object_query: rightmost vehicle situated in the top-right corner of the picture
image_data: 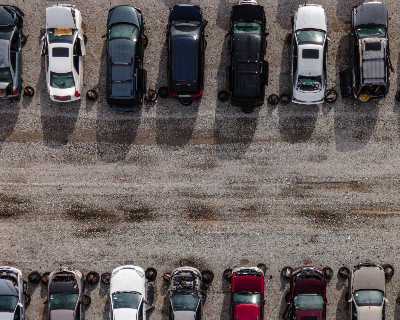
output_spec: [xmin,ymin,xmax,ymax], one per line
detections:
[349,2,394,102]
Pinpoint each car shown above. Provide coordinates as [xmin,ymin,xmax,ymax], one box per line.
[166,266,204,320]
[290,5,332,105]
[226,266,269,320]
[102,5,145,111]
[41,5,89,102]
[349,2,394,102]
[0,266,27,320]
[282,266,330,320]
[44,267,87,320]
[347,264,389,320]
[0,6,24,100]
[226,4,269,107]
[163,5,207,100]
[106,265,147,320]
